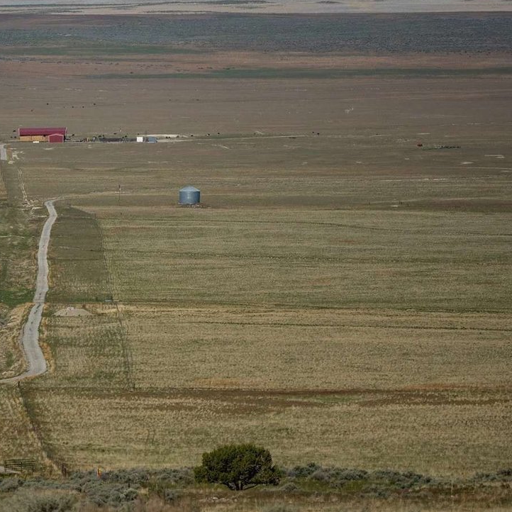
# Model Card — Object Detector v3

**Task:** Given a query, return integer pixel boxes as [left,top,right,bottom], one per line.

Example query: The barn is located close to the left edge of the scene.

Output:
[18,126,66,142]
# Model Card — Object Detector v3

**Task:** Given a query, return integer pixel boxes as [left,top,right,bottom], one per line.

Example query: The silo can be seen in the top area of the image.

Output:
[178,188,201,205]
